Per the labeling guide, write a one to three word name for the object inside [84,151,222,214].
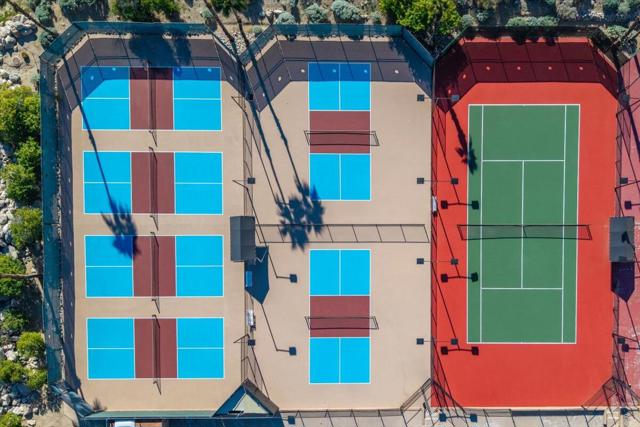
sports court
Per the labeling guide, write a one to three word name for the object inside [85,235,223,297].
sports court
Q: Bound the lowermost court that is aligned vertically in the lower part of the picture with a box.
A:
[309,249,371,384]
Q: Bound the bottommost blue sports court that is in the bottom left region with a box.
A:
[87,318,224,379]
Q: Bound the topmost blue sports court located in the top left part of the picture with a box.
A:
[82,66,221,130]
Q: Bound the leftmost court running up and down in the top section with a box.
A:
[308,63,371,201]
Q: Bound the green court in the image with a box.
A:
[468,104,579,343]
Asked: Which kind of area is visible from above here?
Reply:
sports ground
